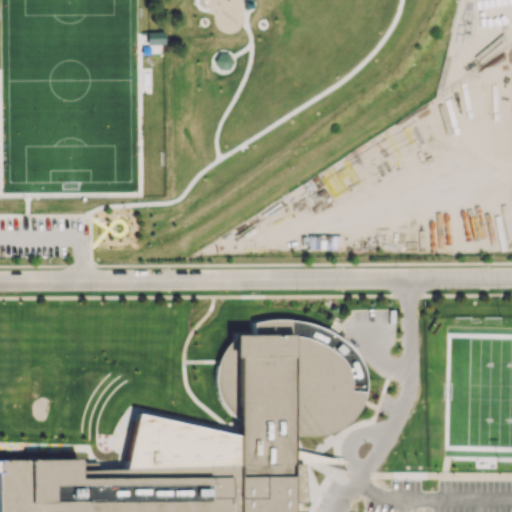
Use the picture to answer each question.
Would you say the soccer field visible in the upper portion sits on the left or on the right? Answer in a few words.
left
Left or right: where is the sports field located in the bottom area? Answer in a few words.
right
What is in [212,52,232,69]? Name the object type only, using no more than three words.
gazebo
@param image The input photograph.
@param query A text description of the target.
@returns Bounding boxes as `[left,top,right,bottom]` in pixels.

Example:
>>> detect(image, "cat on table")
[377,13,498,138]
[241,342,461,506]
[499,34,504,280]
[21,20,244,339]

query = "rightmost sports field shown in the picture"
[445,327,512,456]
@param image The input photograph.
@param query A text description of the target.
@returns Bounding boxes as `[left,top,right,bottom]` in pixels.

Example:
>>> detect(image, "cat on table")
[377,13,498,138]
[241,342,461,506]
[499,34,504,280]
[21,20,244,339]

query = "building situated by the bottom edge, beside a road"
[0,319,370,512]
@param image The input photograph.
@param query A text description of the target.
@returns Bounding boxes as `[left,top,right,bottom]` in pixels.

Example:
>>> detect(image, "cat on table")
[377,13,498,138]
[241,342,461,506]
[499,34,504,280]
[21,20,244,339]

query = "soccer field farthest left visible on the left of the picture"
[2,0,138,192]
